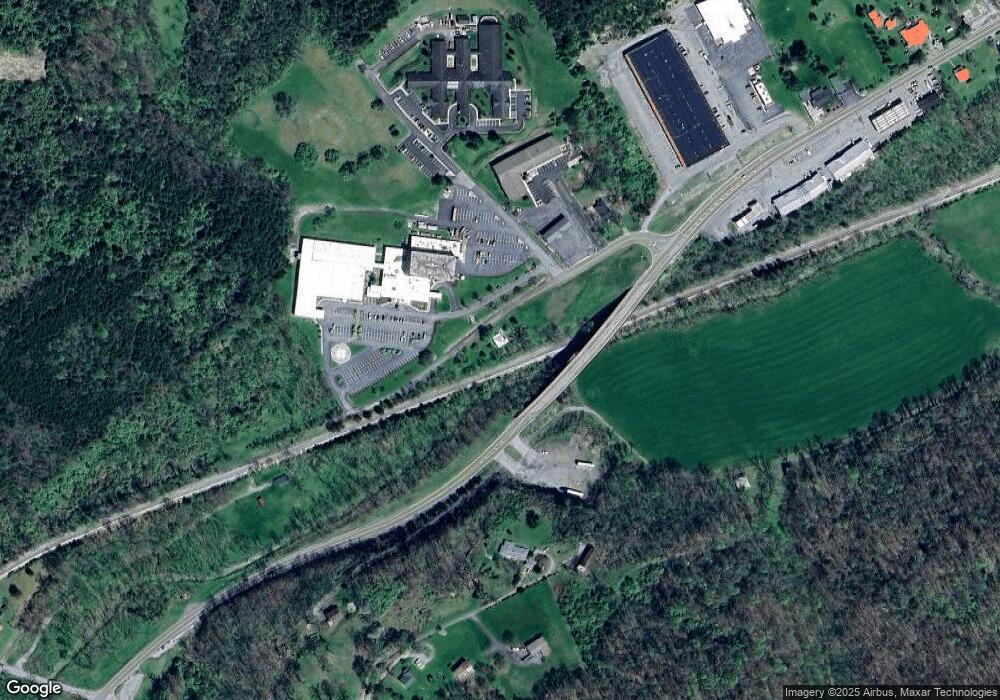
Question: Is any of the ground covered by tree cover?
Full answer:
Yes, there is tree cover in the image.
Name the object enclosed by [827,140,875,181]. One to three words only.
shed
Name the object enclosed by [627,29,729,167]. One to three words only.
building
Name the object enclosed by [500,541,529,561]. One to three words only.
house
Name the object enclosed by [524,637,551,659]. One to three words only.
house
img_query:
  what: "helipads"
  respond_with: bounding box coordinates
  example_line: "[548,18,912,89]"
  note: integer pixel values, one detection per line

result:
[331,344,351,363]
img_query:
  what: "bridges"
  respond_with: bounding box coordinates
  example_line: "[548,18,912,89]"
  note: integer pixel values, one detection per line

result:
[505,277,651,439]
